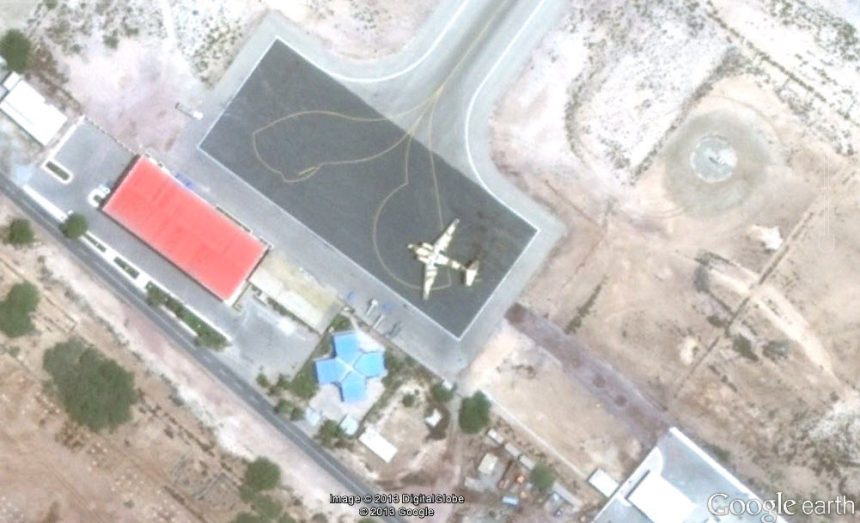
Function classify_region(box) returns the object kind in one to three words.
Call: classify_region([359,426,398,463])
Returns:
house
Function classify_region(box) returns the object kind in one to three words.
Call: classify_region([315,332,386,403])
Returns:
house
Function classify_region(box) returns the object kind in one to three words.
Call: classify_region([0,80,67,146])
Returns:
building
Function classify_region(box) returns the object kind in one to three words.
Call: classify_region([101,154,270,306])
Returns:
building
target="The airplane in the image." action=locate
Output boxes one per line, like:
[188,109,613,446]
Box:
[409,218,482,300]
